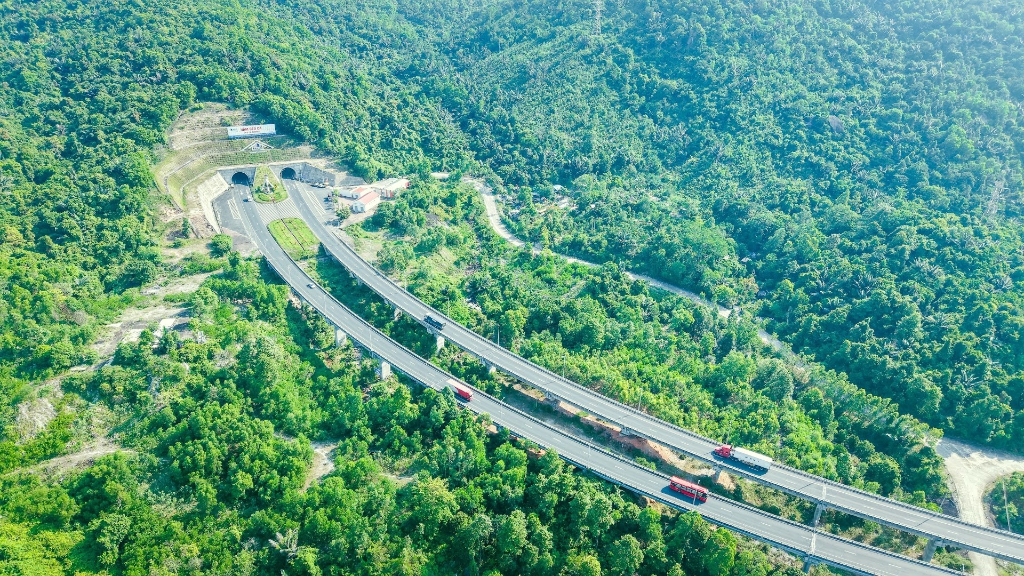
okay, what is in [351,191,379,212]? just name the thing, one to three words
building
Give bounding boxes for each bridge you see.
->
[323,240,1024,568]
